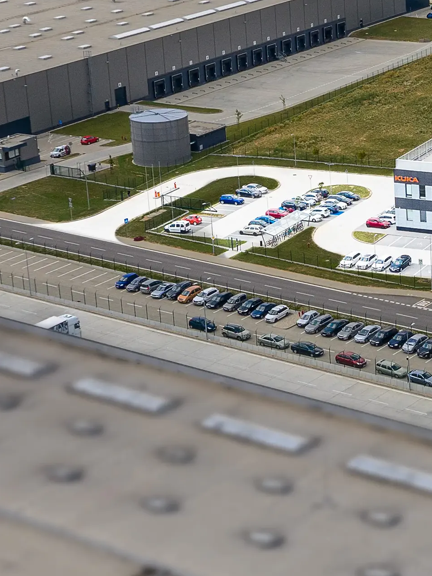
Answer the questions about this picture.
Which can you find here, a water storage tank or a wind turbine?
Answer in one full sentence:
I can see a water storage tank in this picture.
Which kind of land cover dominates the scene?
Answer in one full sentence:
The bulk of the photo consists of buildings.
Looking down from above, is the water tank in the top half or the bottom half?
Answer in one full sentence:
Seen from above, the water tank lies in the top half of the view.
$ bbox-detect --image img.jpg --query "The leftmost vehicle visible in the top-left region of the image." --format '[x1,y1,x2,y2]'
[47,142,73,159]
